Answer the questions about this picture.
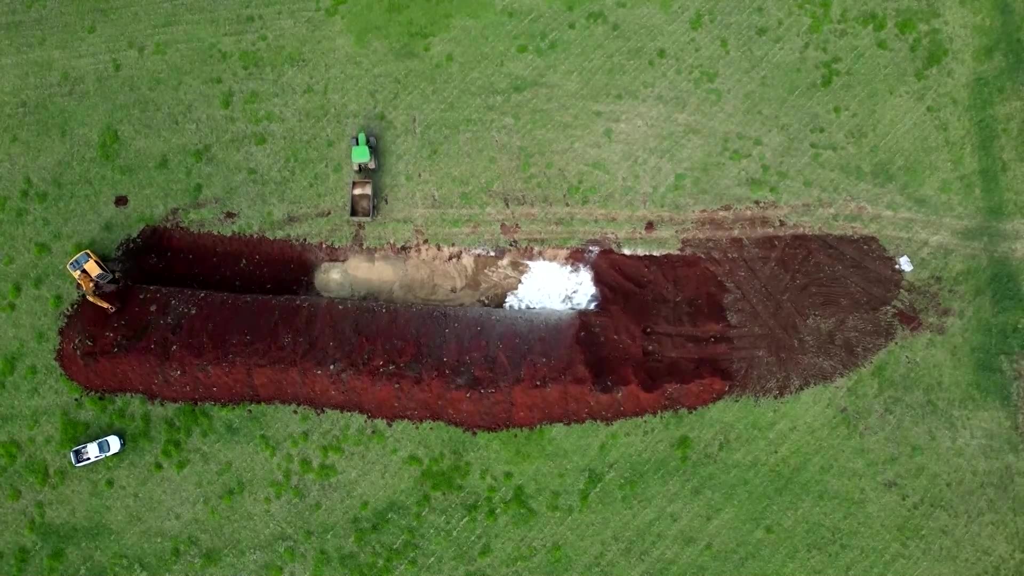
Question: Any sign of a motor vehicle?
Yes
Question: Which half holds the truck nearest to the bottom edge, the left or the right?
left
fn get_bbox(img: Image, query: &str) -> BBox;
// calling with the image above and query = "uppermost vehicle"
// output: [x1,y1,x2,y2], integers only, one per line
[348,133,377,180]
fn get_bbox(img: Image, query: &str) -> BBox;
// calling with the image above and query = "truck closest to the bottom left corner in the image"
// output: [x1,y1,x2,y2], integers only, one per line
[70,434,127,467]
